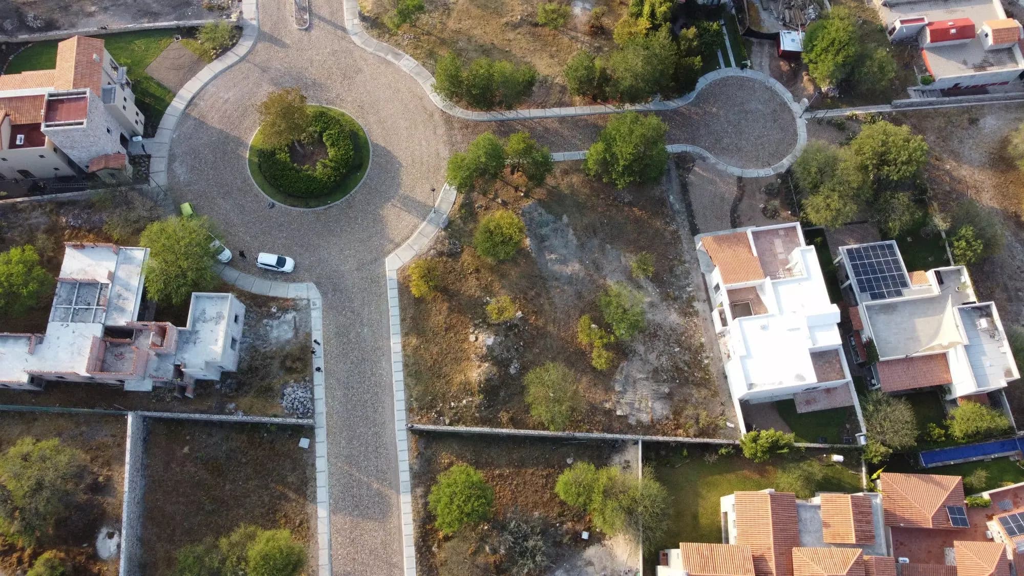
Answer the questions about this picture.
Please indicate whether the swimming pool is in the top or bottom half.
bottom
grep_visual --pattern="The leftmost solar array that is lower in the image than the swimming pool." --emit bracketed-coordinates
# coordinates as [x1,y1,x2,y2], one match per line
[946,506,969,527]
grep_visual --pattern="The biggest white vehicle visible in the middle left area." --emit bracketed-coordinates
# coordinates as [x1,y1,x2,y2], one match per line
[254,252,296,274]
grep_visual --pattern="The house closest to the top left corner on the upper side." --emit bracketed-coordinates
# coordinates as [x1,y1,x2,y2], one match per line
[0,34,144,183]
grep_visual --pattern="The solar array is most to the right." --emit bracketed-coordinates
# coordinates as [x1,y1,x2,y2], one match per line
[998,512,1024,536]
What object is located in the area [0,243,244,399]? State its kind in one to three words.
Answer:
house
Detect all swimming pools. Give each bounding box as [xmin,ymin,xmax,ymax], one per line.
[917,438,1024,468]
